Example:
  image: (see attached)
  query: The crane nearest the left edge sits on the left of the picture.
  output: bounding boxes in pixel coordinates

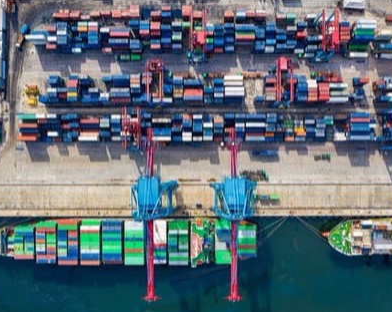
[122,106,147,154]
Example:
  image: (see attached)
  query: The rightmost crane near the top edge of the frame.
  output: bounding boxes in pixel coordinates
[310,8,338,66]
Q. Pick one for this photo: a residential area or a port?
port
